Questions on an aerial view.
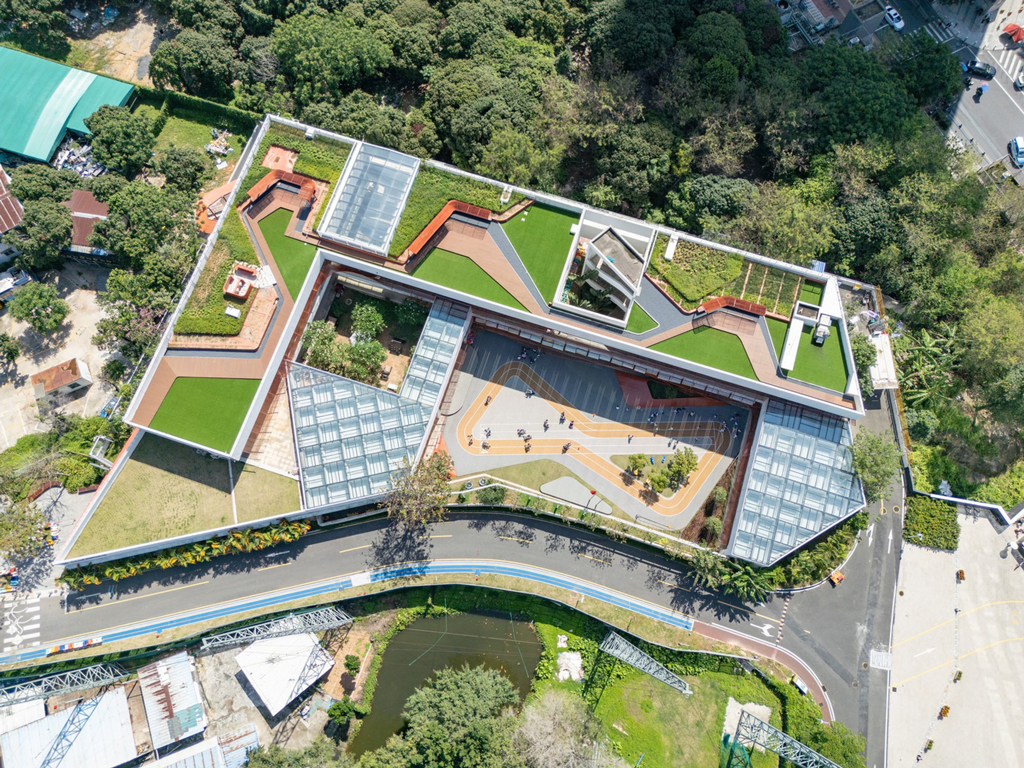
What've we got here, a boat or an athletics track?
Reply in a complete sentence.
There is an athletics track in the scene.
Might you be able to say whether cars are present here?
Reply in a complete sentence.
Yes, a car appears in the view.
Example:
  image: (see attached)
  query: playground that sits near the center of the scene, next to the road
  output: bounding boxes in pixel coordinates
[430,323,759,546]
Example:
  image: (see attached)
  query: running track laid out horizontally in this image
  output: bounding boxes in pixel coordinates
[454,356,732,513]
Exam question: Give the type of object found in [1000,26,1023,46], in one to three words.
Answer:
umbrella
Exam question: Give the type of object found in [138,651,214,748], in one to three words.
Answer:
shed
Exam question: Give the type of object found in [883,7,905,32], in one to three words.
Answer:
car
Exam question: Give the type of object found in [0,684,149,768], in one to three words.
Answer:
shed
